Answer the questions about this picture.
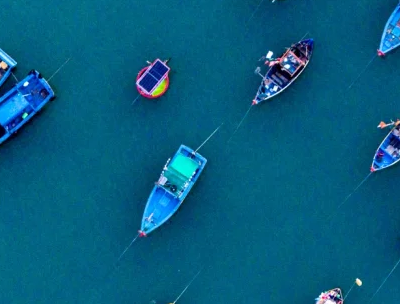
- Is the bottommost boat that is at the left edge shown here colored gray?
No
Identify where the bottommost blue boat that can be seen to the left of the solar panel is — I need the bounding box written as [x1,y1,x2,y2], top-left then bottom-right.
[0,70,59,145]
